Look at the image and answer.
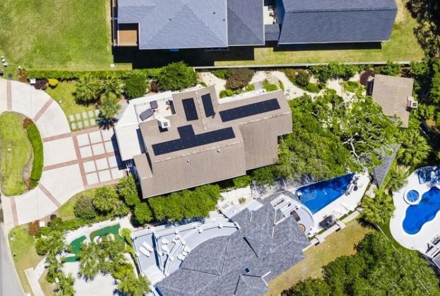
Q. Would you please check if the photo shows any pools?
Yes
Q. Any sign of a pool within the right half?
Yes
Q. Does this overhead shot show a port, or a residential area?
residential area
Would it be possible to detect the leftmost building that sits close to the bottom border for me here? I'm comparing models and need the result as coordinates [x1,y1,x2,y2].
[125,189,319,296]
